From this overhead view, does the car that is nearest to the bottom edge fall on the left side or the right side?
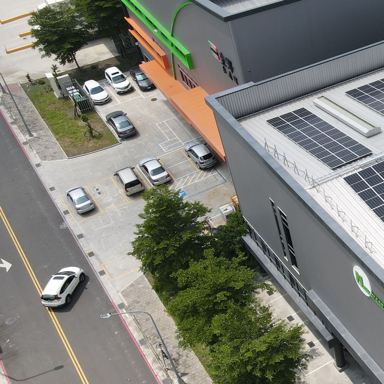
left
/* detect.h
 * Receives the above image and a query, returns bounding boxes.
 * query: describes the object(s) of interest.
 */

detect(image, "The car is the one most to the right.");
[182,139,215,169]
